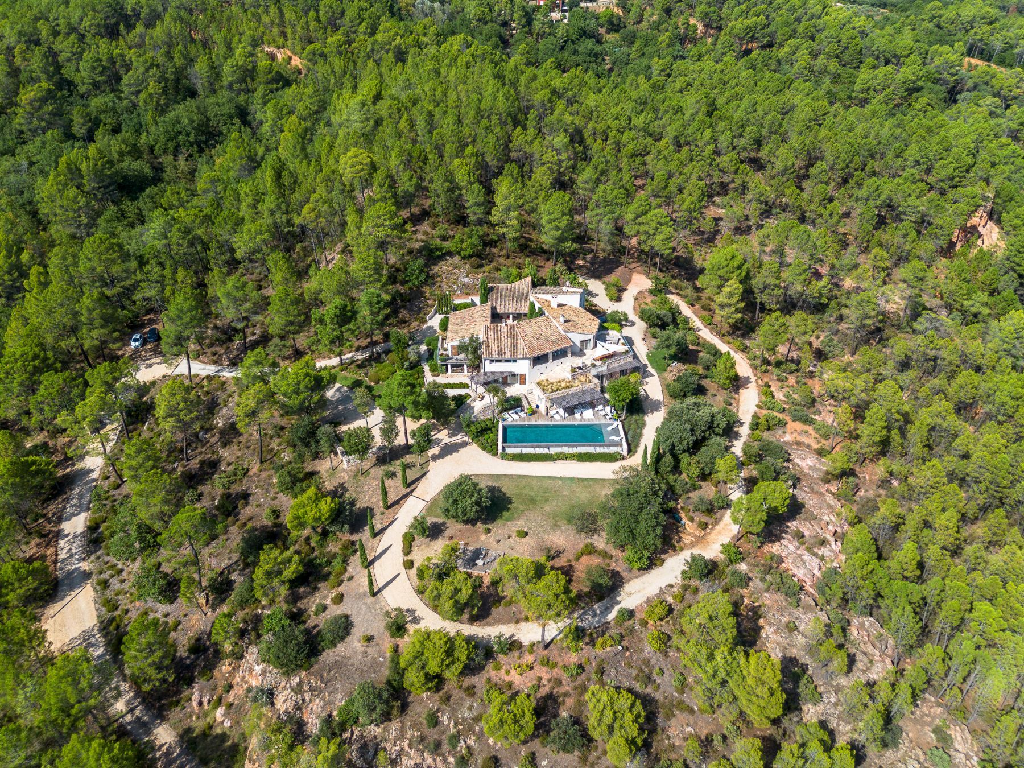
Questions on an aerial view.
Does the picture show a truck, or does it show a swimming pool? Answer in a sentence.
There is a swimming pool in the scene.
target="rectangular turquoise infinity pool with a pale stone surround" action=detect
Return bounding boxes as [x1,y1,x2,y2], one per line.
[499,422,630,460]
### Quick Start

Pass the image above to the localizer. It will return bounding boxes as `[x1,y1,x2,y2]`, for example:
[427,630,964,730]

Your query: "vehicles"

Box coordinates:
[145,326,159,342]
[128,333,142,349]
